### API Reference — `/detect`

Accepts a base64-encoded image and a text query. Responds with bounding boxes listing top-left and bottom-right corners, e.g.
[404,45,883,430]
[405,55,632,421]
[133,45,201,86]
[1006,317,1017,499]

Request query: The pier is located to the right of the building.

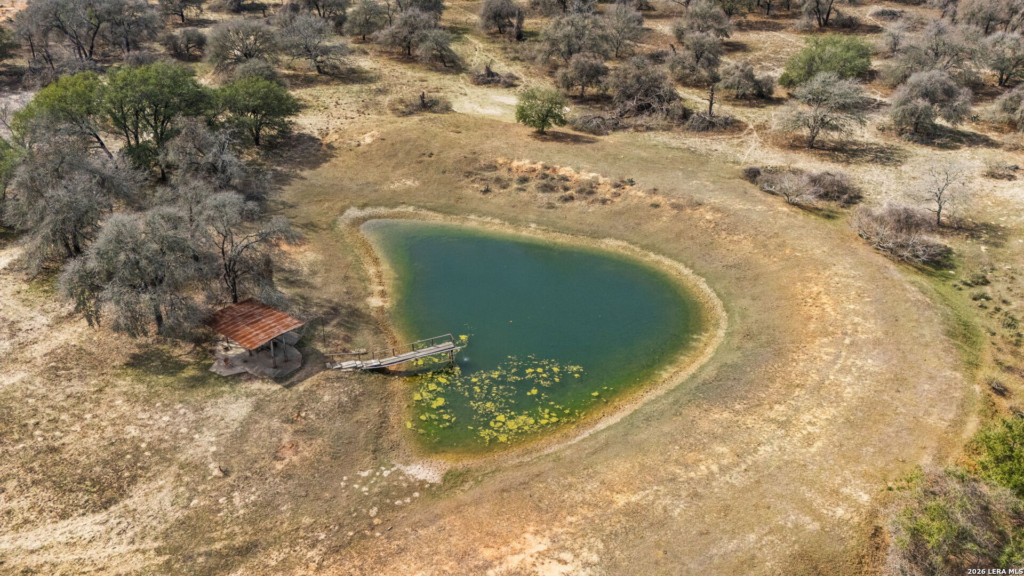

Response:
[324,333,461,372]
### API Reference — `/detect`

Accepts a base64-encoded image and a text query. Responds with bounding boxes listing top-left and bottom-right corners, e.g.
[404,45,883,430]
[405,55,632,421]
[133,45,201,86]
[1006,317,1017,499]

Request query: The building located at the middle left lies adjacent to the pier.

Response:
[205,297,305,368]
